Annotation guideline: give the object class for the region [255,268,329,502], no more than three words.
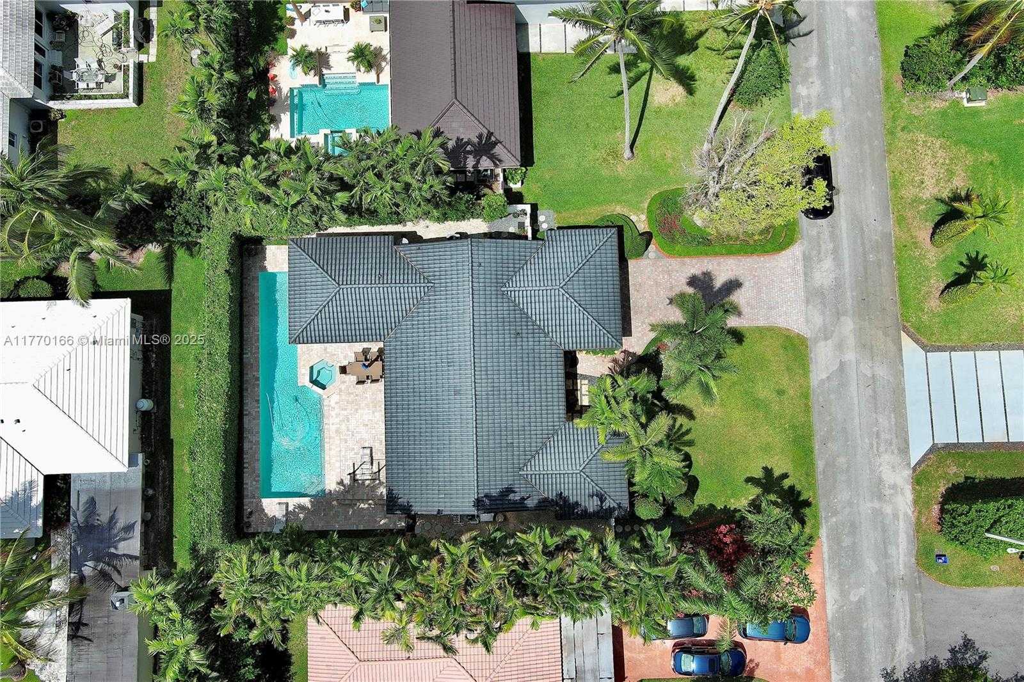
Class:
swimming pool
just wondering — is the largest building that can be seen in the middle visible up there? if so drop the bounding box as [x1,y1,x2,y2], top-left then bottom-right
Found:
[286,226,632,520]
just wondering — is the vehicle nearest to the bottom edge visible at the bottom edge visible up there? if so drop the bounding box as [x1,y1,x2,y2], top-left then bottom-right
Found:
[671,643,748,680]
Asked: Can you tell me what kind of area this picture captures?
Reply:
residential area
